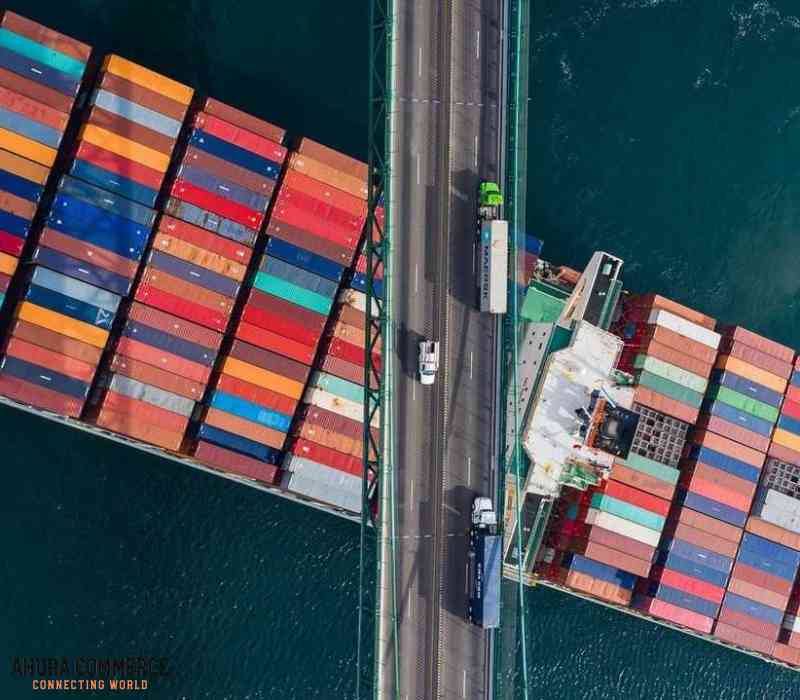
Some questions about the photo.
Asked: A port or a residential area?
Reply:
port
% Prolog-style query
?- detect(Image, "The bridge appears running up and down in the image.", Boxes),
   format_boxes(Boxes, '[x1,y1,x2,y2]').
[359,0,531,700]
